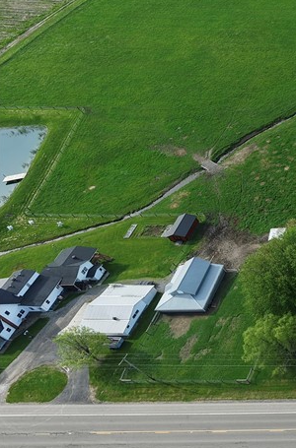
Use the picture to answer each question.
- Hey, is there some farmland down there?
Yes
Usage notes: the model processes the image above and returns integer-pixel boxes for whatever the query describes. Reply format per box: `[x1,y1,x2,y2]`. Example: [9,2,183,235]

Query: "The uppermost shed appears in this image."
[164,214,200,246]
